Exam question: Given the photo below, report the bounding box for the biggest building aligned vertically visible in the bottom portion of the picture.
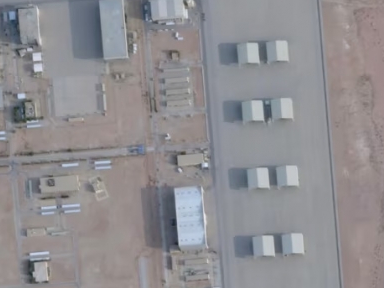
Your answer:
[175,186,209,250]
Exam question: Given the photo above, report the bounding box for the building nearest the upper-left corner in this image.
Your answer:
[19,8,41,46]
